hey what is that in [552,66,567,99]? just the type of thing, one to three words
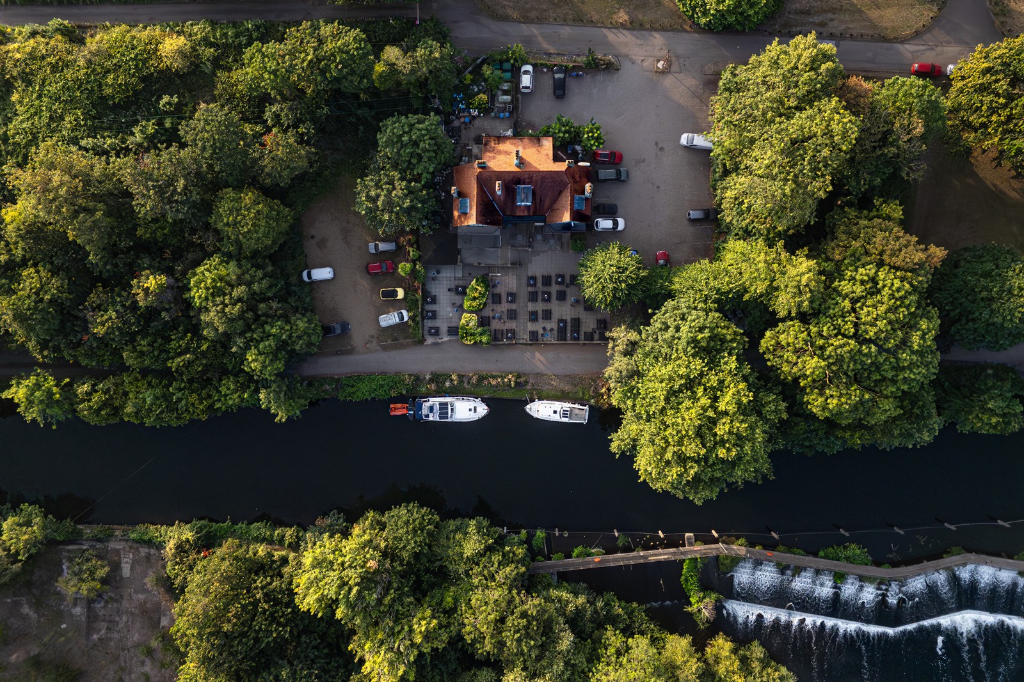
car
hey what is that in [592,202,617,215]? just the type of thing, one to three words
vehicle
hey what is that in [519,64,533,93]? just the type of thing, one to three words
car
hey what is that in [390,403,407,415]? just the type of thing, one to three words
boat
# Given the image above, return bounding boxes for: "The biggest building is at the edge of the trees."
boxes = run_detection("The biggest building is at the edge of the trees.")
[451,136,592,265]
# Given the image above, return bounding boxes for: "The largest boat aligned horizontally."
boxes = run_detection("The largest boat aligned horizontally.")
[416,397,489,422]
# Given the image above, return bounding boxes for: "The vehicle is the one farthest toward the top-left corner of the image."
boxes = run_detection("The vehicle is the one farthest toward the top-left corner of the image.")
[303,267,335,282]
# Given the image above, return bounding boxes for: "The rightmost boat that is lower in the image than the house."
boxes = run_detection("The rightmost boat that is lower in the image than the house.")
[525,402,589,425]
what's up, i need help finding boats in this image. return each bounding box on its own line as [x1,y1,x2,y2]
[390,403,407,415]
[525,402,589,425]
[407,398,416,420]
[416,397,489,422]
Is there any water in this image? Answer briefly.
Yes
